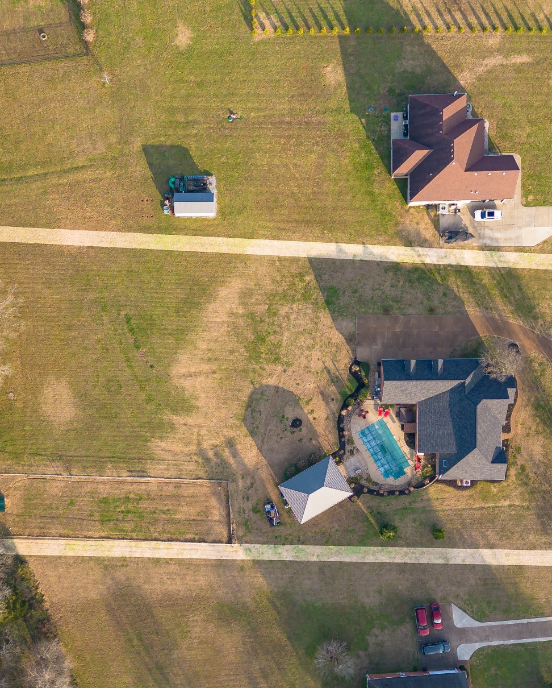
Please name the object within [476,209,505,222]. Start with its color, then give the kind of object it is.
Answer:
white vehicle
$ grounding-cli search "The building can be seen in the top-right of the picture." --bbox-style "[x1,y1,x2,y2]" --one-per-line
[390,90,519,205]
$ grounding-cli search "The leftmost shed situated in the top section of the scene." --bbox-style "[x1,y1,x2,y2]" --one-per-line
[174,192,215,216]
